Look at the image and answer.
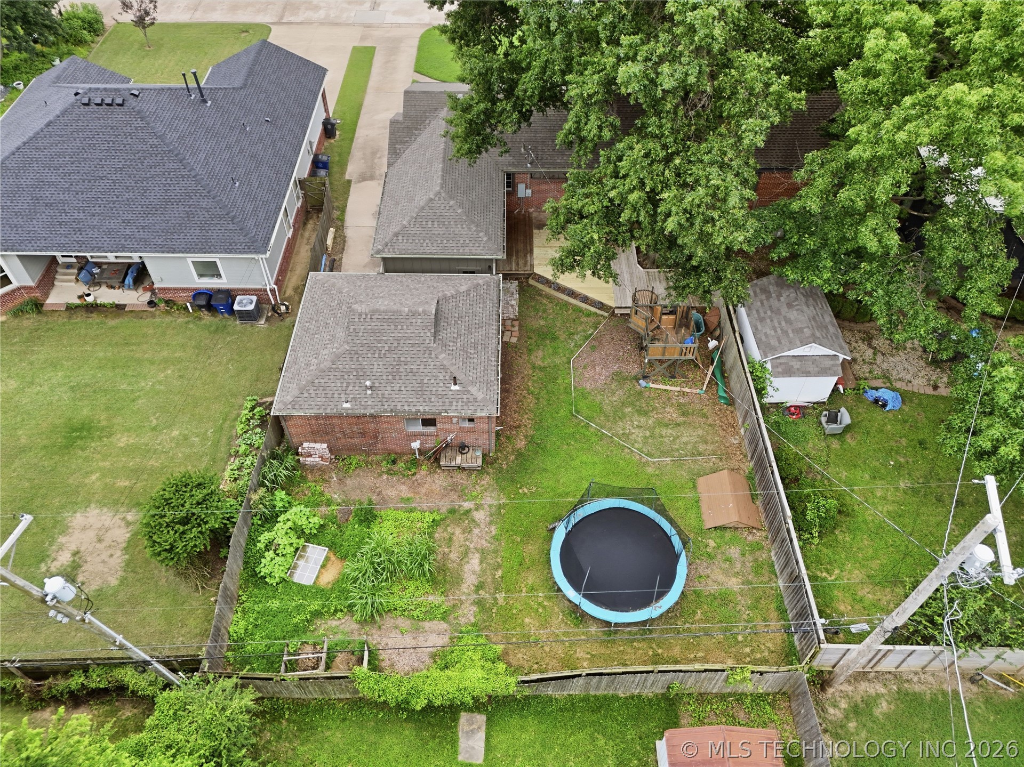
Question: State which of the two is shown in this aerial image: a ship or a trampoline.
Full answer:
There is a trampoline in the scene.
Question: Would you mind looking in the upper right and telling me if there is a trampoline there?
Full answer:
No, looking in the upper right, there is no trampoline.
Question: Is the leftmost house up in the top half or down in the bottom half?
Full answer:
The leftmost house is in the top half of the image.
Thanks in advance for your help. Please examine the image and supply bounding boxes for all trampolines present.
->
[547,484,691,644]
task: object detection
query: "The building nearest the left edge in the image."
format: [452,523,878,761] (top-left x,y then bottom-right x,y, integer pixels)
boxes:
[0,38,329,314]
